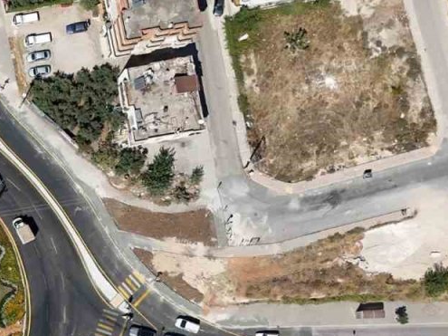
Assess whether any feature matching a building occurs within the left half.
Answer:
Yes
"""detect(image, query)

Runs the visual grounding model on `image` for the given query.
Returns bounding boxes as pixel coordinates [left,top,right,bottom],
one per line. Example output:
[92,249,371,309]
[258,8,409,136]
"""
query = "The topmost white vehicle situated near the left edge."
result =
[14,9,40,25]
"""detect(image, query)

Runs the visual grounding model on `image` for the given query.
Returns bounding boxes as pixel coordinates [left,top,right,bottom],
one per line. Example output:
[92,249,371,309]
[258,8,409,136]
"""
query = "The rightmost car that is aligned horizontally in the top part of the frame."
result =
[66,20,91,34]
